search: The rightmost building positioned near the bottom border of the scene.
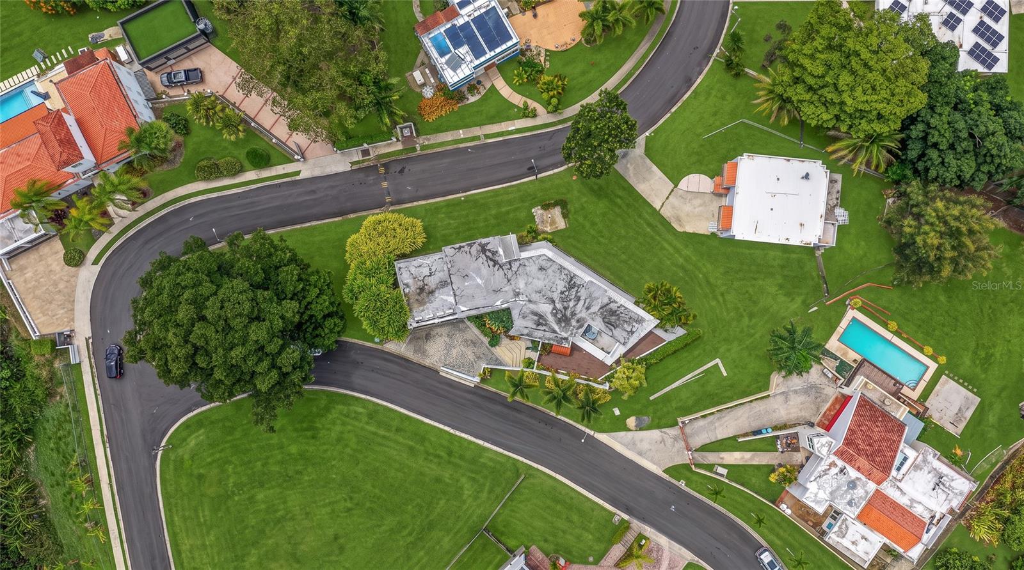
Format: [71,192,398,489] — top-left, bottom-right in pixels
[786,377,981,569]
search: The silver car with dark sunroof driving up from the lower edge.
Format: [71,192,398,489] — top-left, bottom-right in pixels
[756,545,781,570]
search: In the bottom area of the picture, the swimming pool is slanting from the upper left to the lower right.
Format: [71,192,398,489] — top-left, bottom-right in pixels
[836,315,931,393]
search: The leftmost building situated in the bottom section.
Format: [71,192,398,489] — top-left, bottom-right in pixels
[56,331,81,363]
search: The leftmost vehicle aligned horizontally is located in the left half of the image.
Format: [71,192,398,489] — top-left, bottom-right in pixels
[161,66,203,87]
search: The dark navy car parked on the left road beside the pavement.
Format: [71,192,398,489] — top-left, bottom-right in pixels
[104,345,125,379]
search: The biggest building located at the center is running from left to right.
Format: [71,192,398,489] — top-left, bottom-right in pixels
[395,234,661,367]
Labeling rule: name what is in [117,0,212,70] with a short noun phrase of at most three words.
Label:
building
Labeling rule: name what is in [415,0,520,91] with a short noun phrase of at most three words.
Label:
house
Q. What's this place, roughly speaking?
residential area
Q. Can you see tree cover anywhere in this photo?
Yes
